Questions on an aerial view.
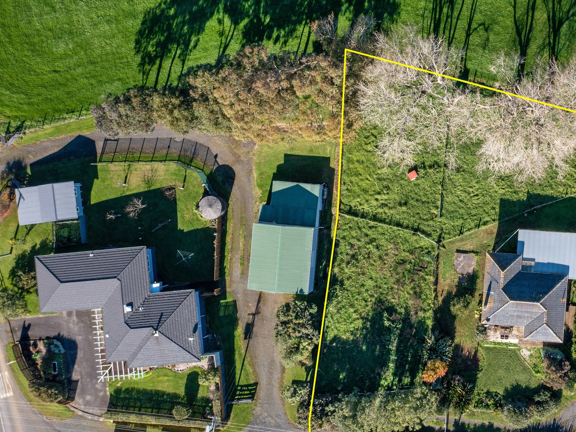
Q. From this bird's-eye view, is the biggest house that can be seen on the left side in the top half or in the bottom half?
bottom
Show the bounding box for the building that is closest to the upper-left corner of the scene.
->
[15,181,85,226]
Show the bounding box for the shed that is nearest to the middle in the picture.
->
[247,181,325,296]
